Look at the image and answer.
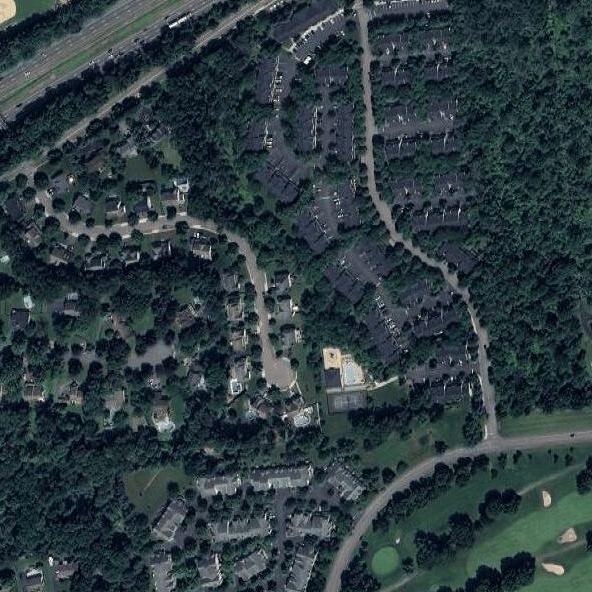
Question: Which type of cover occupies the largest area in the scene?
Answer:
trees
